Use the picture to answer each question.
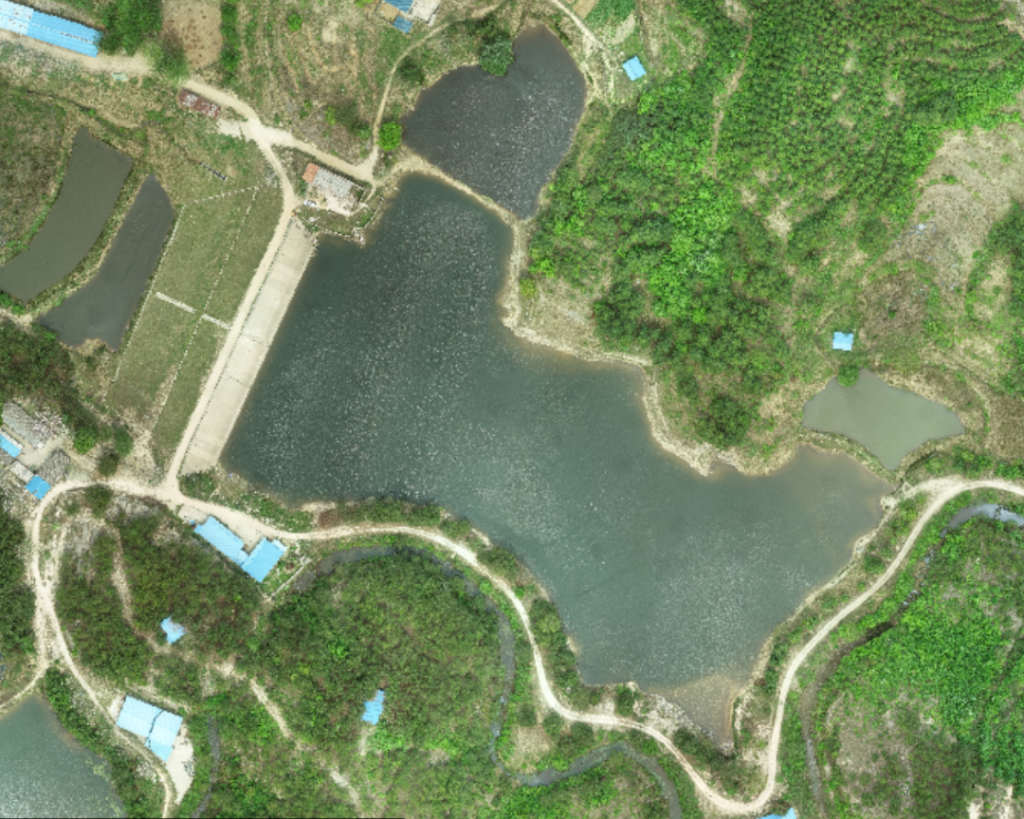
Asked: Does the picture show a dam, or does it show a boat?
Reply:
dam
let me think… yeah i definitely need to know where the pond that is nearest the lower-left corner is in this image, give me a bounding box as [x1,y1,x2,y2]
[0,694,132,819]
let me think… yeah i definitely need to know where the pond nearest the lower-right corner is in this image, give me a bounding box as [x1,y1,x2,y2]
[803,369,963,469]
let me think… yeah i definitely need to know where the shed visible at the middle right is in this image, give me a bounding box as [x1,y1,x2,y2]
[835,331,855,350]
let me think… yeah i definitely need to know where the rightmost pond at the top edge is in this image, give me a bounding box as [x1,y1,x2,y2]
[402,25,586,219]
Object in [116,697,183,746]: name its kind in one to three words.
house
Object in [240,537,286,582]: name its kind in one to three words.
barn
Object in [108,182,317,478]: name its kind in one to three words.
dam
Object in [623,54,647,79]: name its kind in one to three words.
shed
